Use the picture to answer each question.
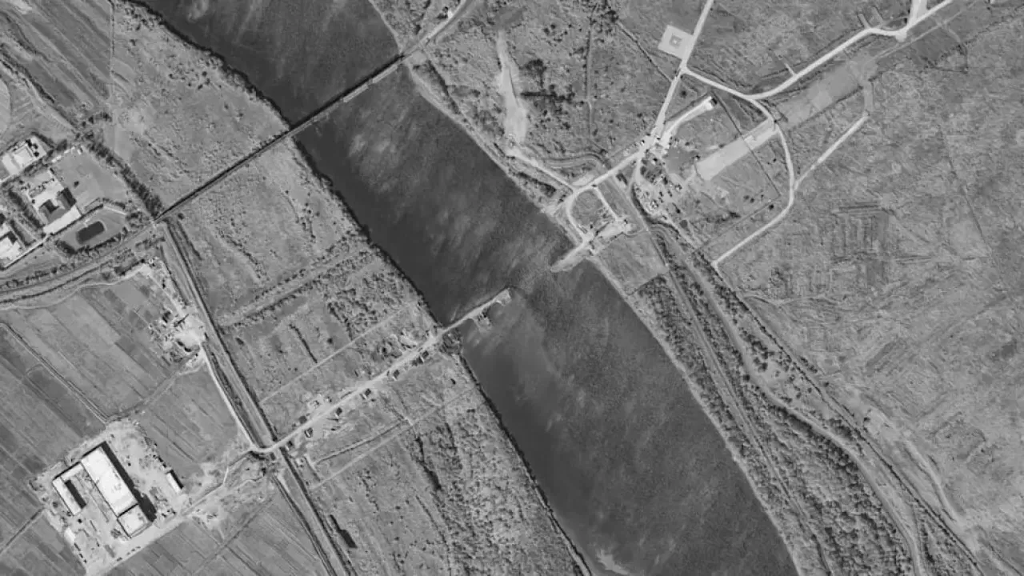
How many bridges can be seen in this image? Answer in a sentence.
The picture shows just 1 bridge.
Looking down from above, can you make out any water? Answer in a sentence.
Yes, there is water in the image.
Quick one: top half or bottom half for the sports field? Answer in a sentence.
You can find the sports field in the top half.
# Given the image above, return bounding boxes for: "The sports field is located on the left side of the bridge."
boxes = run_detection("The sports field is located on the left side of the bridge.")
[57,152,125,206]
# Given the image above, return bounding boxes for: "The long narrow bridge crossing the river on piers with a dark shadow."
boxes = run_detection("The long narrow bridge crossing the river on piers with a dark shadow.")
[157,39,439,220]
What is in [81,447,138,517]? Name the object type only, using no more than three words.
shed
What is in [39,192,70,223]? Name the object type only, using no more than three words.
building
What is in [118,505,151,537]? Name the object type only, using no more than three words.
building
